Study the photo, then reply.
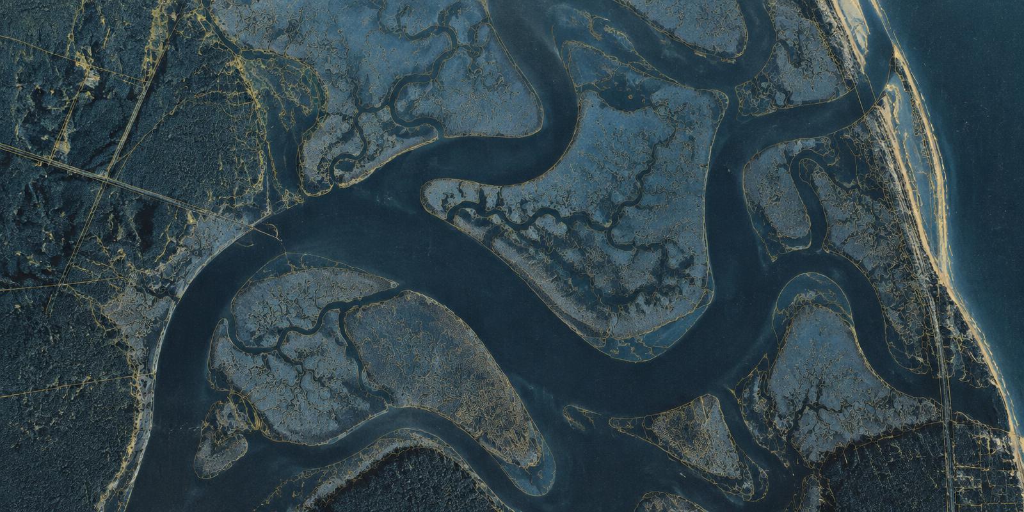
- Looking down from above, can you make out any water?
Yes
